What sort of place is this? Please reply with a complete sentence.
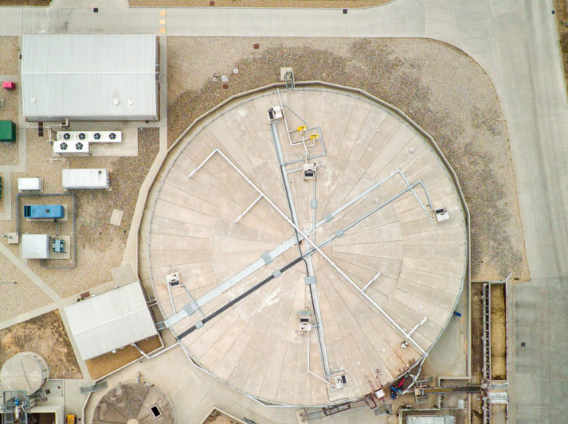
It's an industrial area.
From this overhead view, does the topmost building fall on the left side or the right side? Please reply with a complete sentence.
The topmost building is on the left side of the image.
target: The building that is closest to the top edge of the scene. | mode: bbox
[20,35,159,122]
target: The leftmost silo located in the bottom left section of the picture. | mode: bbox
[0,348,53,401]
